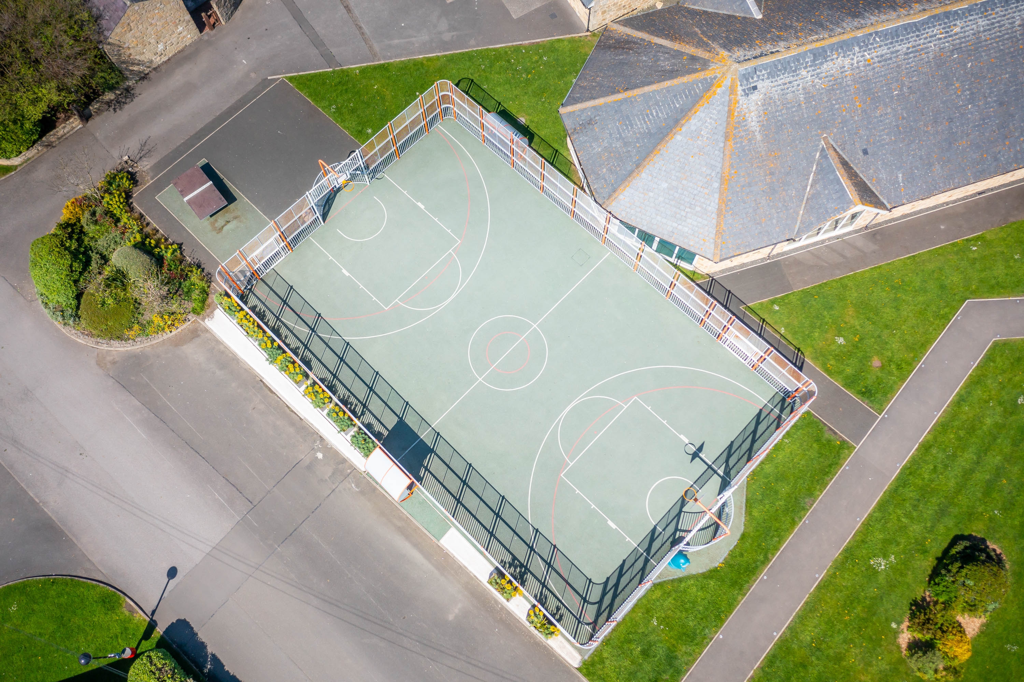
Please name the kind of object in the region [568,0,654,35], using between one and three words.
house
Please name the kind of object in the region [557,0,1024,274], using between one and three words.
building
